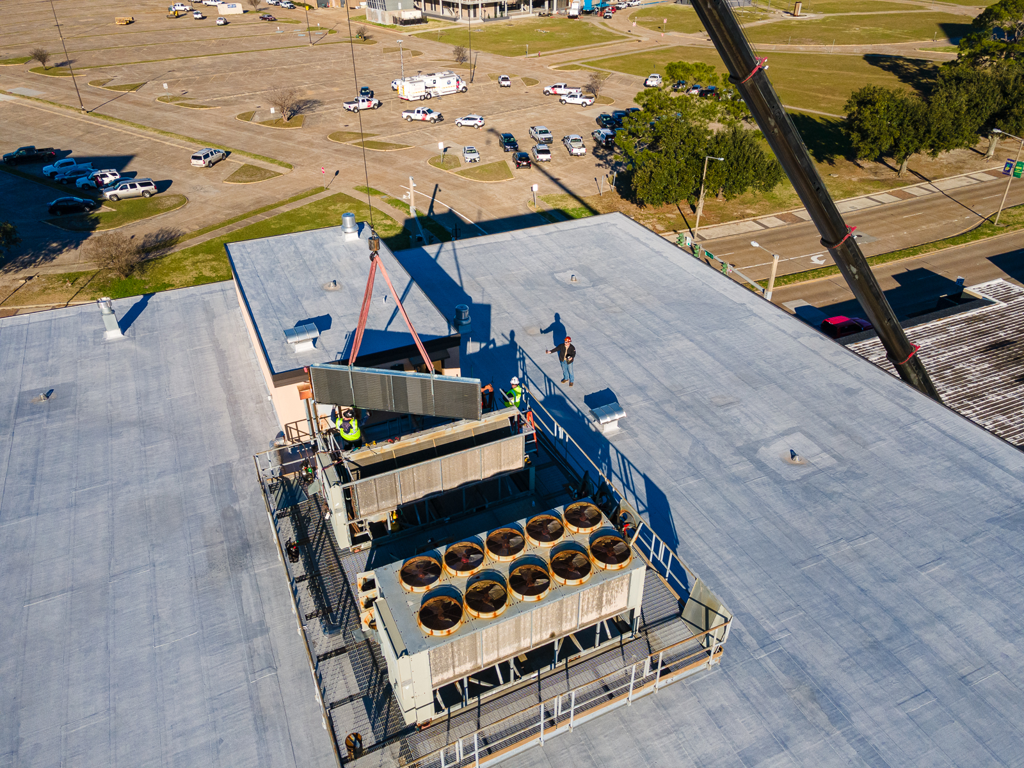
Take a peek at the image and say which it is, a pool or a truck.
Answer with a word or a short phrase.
truck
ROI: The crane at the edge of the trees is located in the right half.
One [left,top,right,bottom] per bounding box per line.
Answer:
[681,0,953,406]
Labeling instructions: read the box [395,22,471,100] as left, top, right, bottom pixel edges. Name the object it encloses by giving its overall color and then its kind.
white truck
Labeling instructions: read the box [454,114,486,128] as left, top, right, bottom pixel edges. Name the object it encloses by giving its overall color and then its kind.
white car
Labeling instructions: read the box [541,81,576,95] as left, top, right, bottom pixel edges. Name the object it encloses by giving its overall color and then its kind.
white vehicle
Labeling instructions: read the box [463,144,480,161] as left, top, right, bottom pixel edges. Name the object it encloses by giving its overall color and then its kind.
white car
